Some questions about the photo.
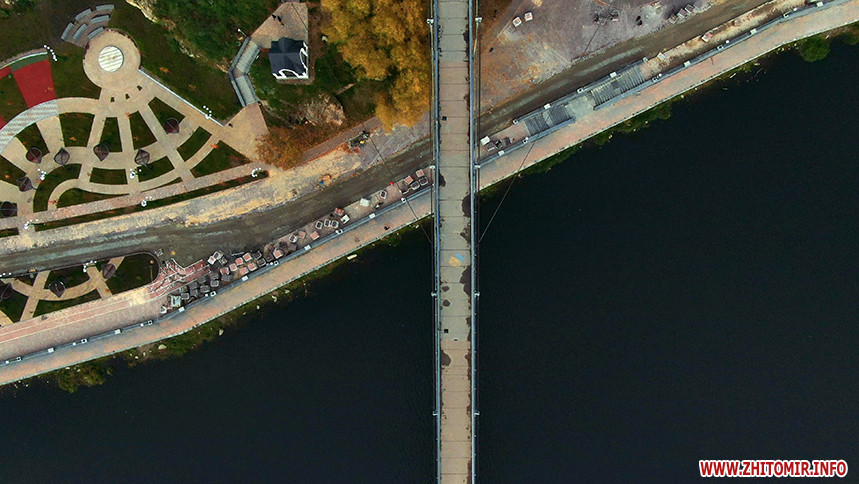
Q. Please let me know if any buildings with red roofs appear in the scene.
No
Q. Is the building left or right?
left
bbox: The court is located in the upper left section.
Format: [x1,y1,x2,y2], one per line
[0,52,56,108]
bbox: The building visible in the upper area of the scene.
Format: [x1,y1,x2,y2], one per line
[267,29,308,79]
